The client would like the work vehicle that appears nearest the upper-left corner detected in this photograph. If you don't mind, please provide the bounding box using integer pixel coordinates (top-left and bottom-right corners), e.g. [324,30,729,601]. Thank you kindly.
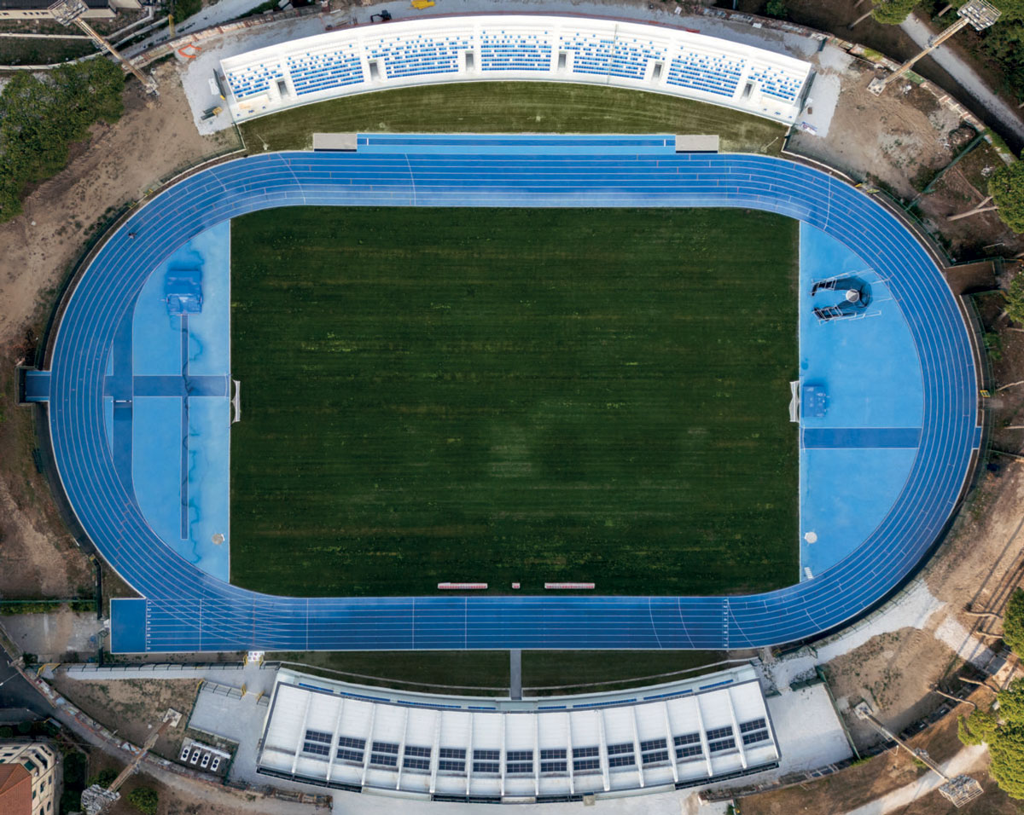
[366,6,392,26]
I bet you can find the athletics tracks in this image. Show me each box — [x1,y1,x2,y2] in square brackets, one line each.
[50,152,979,652]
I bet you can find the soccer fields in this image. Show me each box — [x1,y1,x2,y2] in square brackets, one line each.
[230,208,801,596]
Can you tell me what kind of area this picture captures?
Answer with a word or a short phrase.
sports ground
